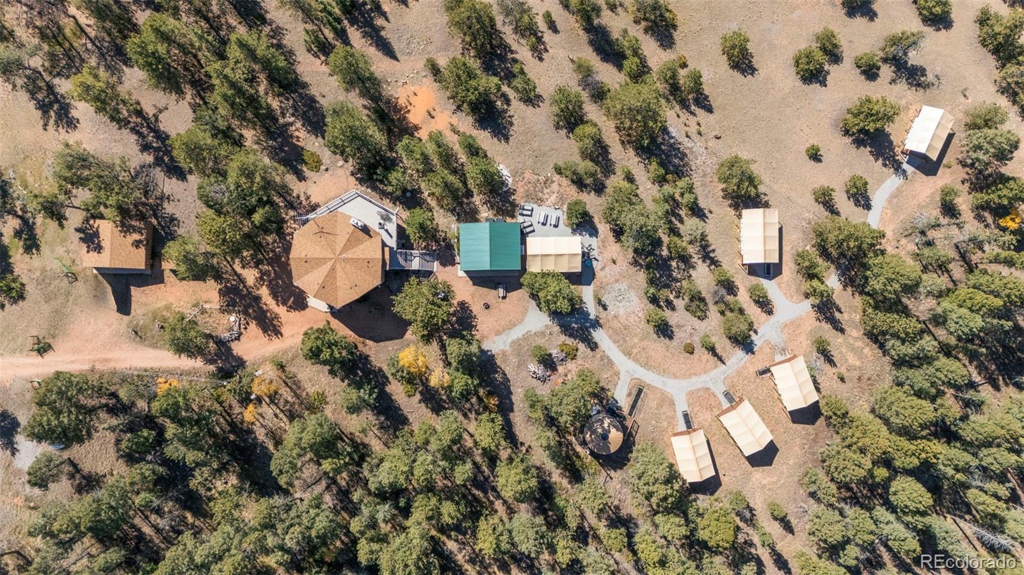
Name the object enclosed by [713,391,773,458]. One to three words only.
tent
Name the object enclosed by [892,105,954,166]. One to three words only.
tent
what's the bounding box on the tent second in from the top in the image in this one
[733,208,779,276]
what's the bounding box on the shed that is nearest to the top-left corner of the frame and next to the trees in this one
[84,219,152,268]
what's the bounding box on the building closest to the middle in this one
[460,222,524,276]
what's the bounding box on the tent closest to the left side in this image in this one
[670,413,716,483]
